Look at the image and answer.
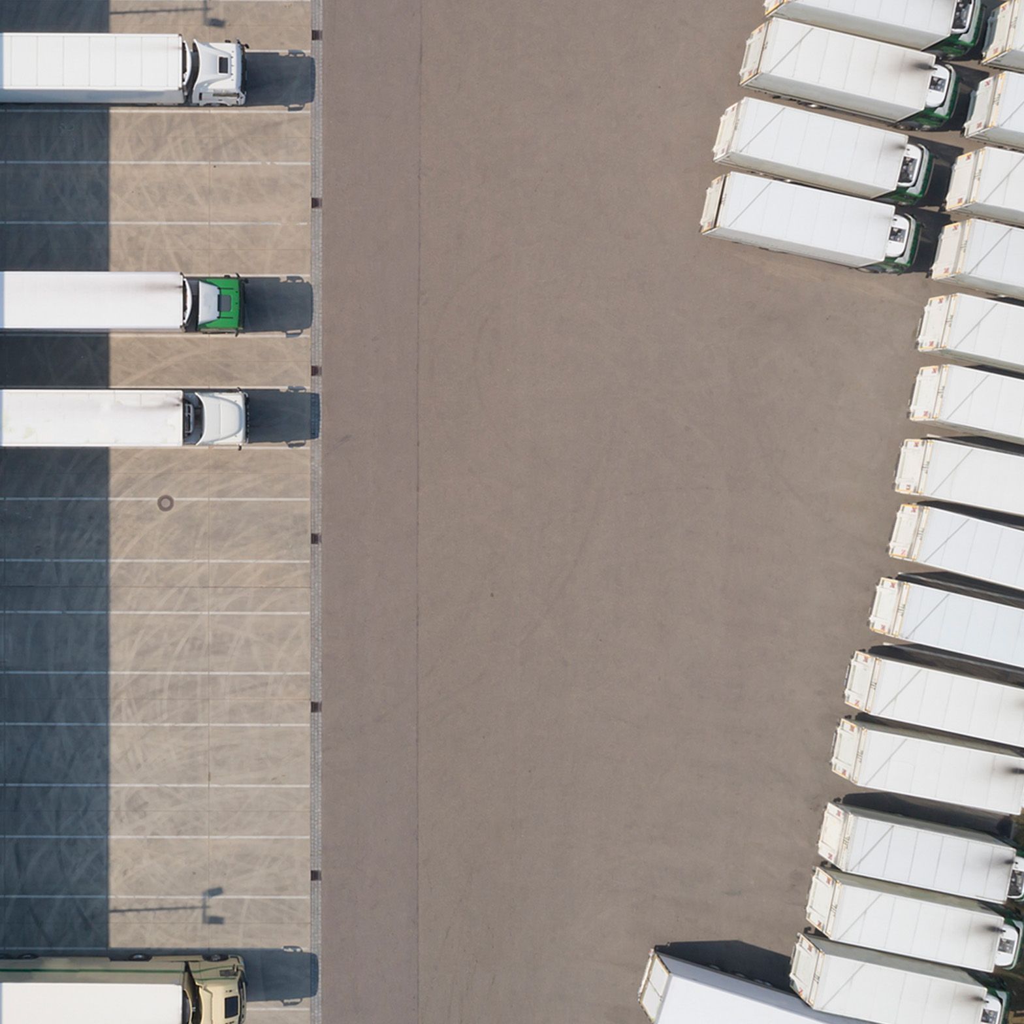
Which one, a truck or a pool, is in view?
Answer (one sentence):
The image shows a truck.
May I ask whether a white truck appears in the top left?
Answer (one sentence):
Yes, the scene does show a white truck in the top left.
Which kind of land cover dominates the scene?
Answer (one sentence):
Most of the picture is covered by paved ground.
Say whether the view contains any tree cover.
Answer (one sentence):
No, no tree cover is visible.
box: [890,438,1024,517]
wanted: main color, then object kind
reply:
white truck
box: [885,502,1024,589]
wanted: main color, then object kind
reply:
white truck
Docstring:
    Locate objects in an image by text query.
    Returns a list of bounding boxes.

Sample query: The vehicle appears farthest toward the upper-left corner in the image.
[0,33,249,108]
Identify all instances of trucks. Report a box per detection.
[942,146,1024,229]
[737,18,964,134]
[697,172,924,279]
[814,798,1024,906]
[927,218,1024,300]
[708,97,935,211]
[890,438,1024,517]
[841,648,1024,747]
[867,576,1024,667]
[0,270,249,336]
[828,715,1024,815]
[803,864,1024,974]
[905,364,1024,445]
[763,0,991,62]
[885,502,1024,589]
[914,293,1024,376]
[963,70,1024,152]
[0,33,249,108]
[976,0,1024,73]
[787,931,1016,1024]
[0,952,249,1024]
[0,386,249,451]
